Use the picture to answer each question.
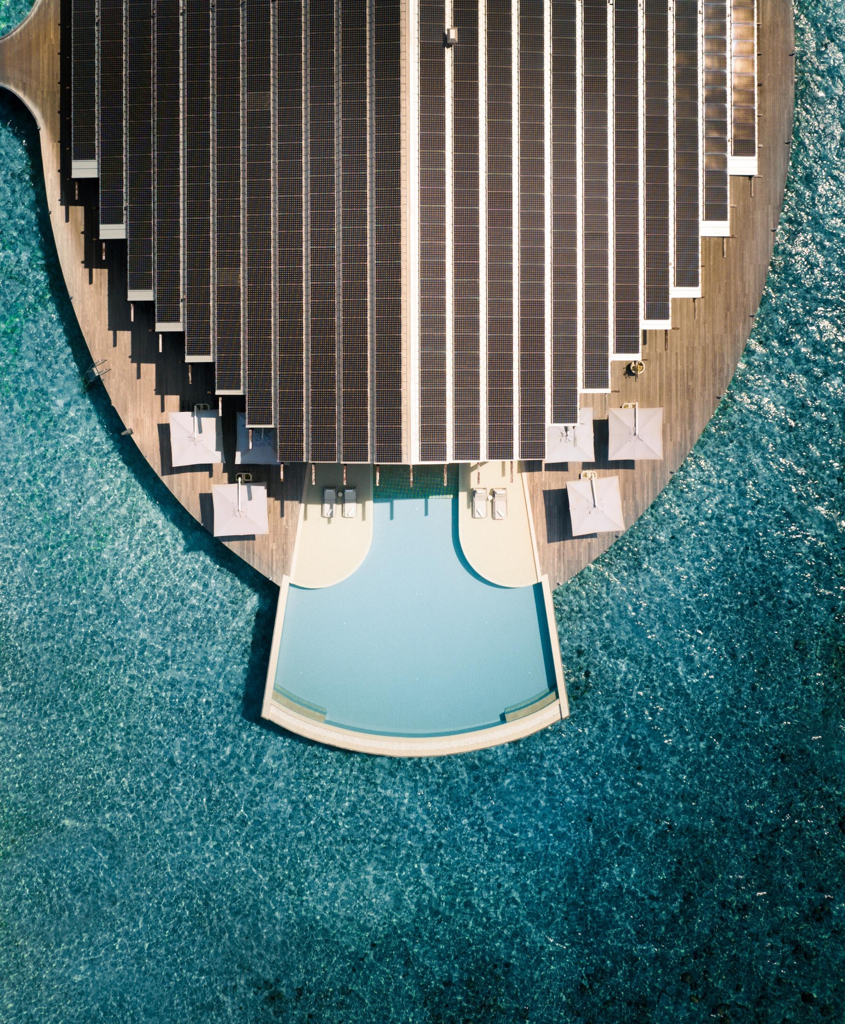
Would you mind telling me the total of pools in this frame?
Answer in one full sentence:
The photo contains exactly 1 pool.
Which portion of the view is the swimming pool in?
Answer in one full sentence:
You can find the swimming pool in the center area of the picture.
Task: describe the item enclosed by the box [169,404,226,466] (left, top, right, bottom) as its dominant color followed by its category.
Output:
white umbrella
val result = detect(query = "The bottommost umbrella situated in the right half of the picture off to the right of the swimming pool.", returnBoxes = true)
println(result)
[566,470,625,536]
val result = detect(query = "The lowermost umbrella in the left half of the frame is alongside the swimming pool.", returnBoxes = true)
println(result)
[214,474,268,536]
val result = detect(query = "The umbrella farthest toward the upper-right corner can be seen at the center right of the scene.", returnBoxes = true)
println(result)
[608,400,662,461]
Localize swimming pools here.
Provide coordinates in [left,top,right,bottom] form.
[260,461,571,756]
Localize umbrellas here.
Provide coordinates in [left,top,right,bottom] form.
[235,411,289,466]
[566,470,625,536]
[169,404,226,466]
[544,407,596,463]
[608,400,662,461]
[214,474,268,536]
